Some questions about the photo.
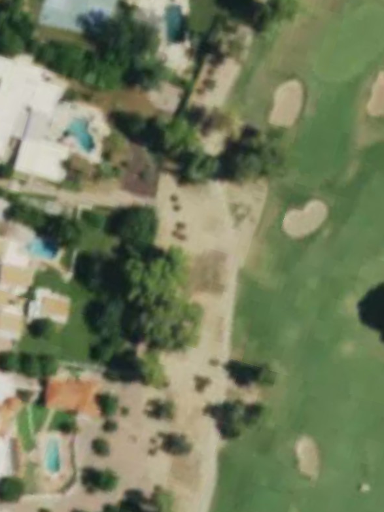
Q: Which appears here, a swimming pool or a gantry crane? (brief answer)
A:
swimming pool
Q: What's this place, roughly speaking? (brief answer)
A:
golf course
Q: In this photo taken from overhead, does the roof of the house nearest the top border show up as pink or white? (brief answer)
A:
white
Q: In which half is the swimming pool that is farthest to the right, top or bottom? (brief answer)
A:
top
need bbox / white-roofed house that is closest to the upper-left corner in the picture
[0,55,69,182]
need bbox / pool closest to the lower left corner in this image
[45,435,61,473]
